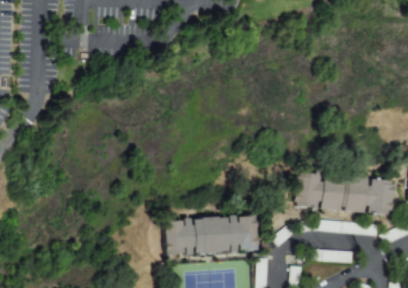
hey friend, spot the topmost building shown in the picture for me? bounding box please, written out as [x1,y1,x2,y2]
[296,172,395,214]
